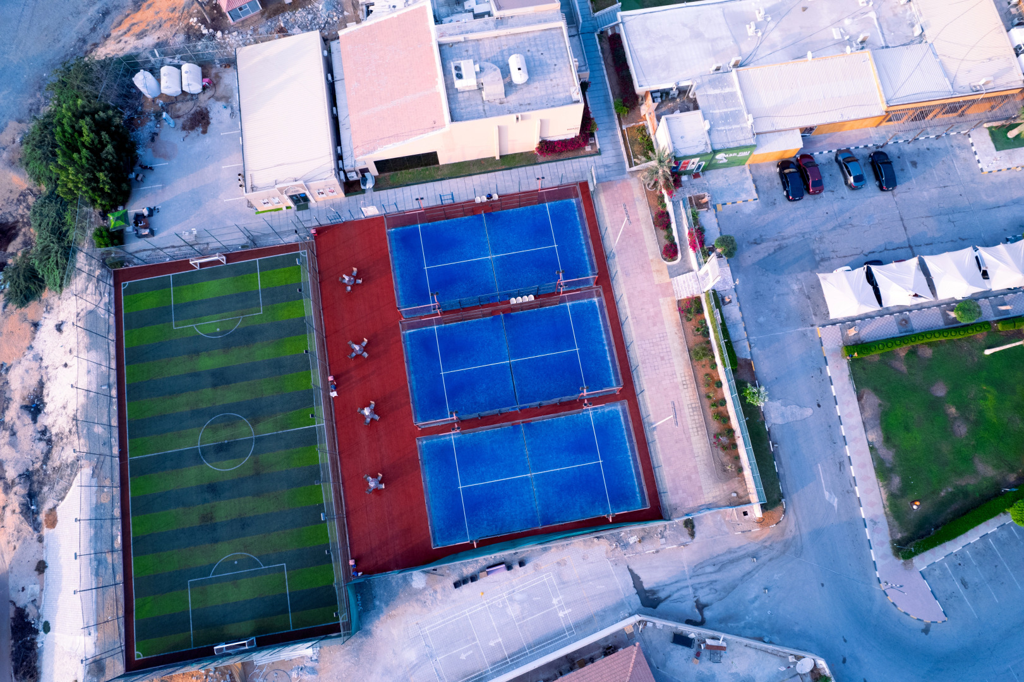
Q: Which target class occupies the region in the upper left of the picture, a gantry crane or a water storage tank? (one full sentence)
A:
It is a water storage tank that can be seen in the upper left of the picture.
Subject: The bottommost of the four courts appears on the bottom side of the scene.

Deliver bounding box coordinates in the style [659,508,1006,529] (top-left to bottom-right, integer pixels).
[417,556,598,682]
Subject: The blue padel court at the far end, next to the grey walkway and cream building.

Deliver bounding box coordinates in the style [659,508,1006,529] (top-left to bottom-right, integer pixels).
[384,177,600,318]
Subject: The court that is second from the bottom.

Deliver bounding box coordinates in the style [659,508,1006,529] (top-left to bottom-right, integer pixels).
[414,397,654,552]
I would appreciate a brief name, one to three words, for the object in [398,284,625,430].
sports court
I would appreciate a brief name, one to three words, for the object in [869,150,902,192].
car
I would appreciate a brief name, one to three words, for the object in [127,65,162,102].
water tank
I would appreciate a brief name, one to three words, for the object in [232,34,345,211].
building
